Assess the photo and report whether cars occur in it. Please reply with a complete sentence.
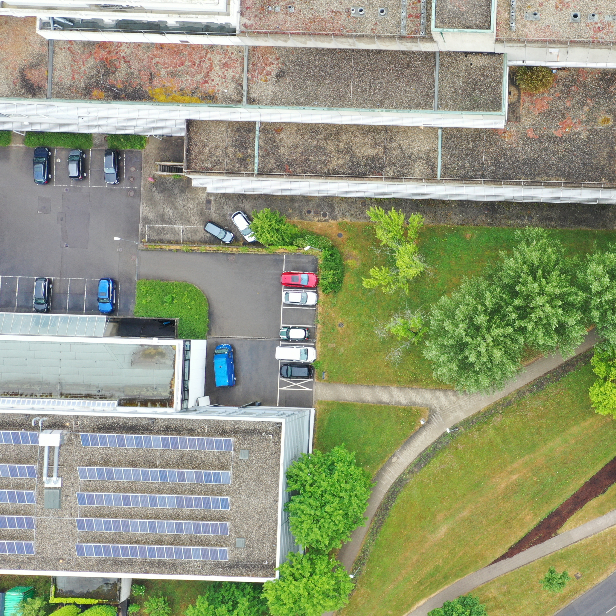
Yes, the frame does contain a car.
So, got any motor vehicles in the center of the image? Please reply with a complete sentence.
Yes, a motor vehicle appears in the center of the image.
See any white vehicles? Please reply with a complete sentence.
Yes, I can see a white vehicle in this picture.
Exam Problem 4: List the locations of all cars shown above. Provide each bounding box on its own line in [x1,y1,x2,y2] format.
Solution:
[282,363,315,380]
[281,270,318,288]
[97,278,117,313]
[229,210,259,245]
[204,220,236,244]
[279,325,309,342]
[32,148,53,184]
[283,290,318,307]
[67,150,87,180]
[102,149,123,185]
[32,278,53,312]
[274,345,317,363]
